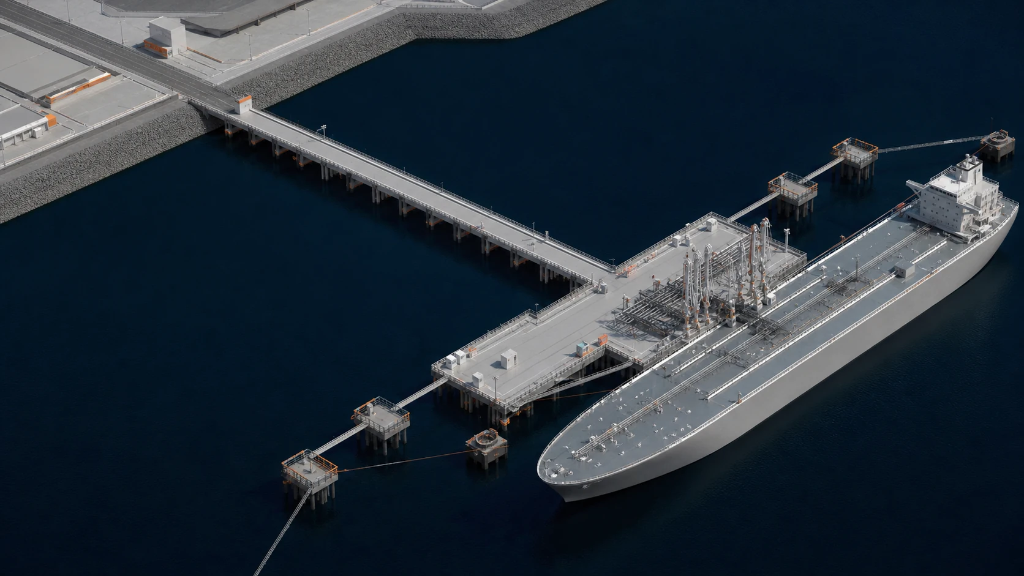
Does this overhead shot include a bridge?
Yes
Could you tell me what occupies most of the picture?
water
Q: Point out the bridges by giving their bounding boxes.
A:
[178,85,616,295]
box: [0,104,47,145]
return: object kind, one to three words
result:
building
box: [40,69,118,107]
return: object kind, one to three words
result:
shed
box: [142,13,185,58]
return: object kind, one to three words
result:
building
